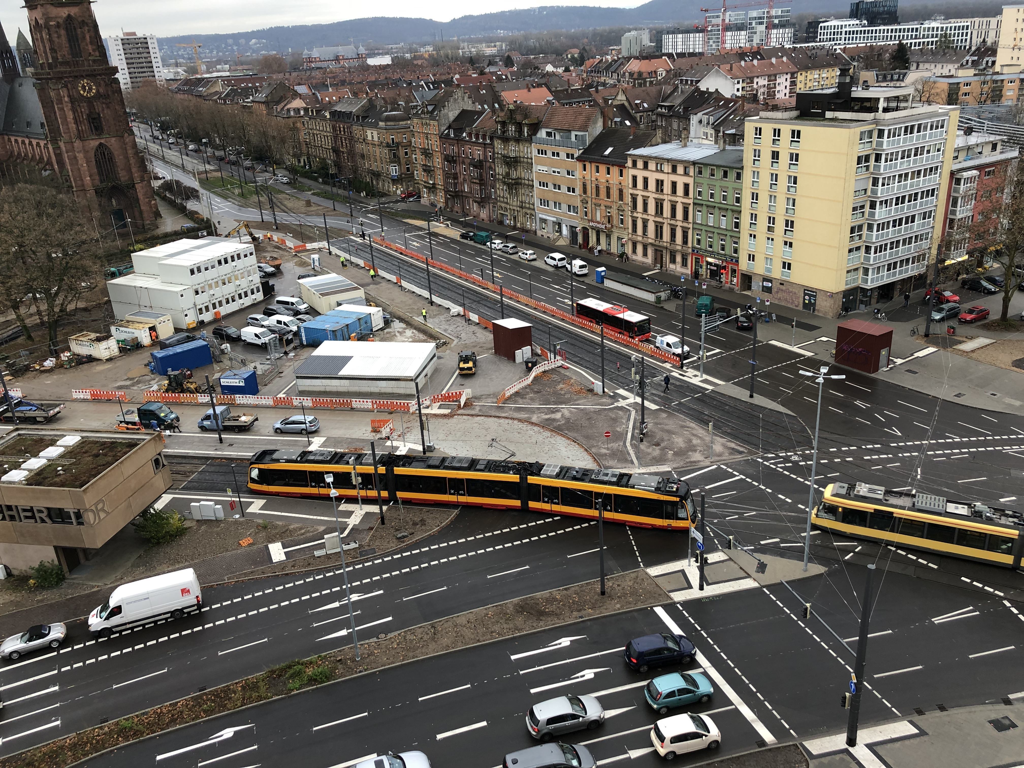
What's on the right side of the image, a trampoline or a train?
train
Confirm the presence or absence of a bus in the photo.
Yes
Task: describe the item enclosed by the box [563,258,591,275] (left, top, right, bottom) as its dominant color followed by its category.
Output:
white vehicle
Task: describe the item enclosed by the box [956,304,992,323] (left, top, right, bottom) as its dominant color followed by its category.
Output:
red car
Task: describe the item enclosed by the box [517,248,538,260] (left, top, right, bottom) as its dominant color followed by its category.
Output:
white vehicle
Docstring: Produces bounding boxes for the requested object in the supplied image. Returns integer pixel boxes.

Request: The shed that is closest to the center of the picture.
[490,310,540,363]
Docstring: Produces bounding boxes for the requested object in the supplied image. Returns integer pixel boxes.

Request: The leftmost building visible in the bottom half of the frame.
[0,428,174,567]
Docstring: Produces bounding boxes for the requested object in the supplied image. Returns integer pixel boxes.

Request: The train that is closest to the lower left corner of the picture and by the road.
[249,435,699,528]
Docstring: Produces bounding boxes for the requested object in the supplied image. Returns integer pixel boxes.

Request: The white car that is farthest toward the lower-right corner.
[649,711,724,762]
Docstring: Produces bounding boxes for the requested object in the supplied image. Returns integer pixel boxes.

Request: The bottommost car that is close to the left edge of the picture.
[1,622,71,660]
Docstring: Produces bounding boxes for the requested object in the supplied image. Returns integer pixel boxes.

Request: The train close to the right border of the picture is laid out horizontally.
[815,476,1024,569]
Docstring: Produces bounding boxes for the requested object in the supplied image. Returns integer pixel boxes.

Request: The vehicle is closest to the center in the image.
[453,348,484,379]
